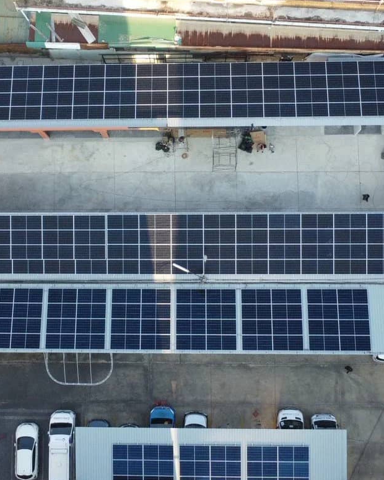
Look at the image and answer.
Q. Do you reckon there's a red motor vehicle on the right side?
No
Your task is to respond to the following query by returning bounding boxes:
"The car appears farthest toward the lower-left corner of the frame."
[10,423,38,480]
